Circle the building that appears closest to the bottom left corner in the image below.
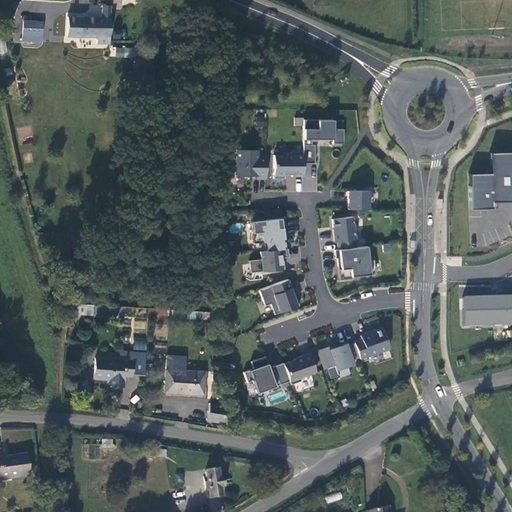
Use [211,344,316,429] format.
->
[0,448,34,482]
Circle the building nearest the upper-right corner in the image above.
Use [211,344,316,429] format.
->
[468,152,512,209]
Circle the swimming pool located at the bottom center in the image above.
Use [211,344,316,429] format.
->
[267,390,286,404]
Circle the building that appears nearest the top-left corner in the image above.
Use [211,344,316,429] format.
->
[22,20,46,43]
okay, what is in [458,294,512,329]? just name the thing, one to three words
building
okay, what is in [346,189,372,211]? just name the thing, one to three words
house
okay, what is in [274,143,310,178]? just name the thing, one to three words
house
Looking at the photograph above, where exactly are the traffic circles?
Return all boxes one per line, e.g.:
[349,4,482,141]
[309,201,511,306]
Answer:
[381,64,476,158]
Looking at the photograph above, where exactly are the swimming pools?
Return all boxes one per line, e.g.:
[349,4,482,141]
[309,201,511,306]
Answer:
[230,222,244,234]
[267,390,286,404]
